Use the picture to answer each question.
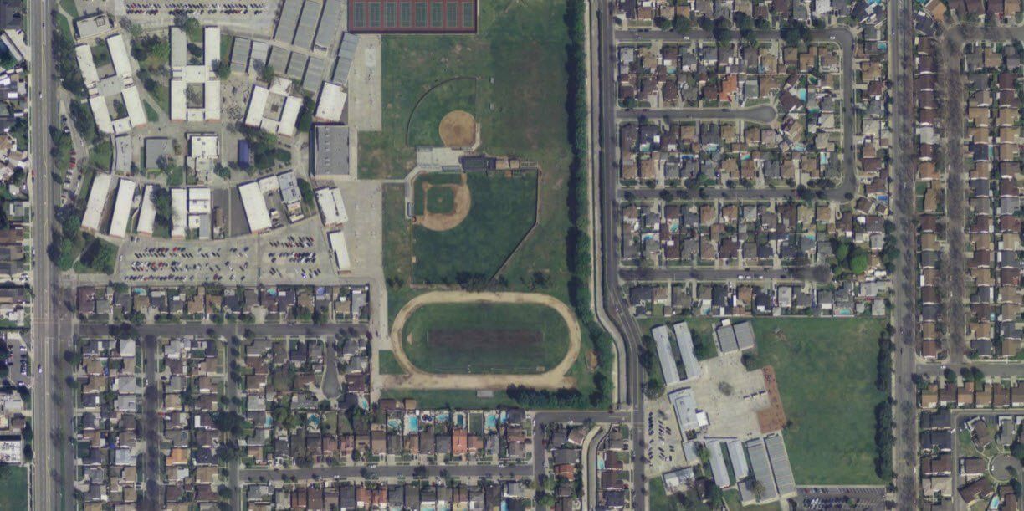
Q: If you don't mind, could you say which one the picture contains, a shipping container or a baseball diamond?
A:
baseball diamond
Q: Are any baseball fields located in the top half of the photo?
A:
Yes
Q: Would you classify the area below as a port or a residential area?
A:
residential area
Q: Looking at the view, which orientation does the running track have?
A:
horizontally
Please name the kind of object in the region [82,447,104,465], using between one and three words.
house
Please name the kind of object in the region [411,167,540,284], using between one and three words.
baseball field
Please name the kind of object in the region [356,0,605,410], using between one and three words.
sports field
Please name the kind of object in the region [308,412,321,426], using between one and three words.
swimming pool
